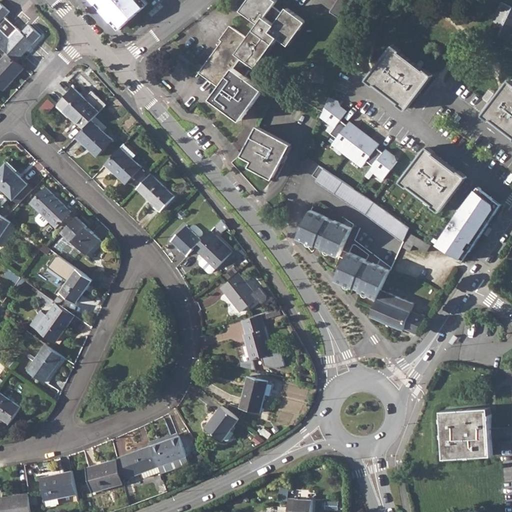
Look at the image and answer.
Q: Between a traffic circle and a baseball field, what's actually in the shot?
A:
traffic circle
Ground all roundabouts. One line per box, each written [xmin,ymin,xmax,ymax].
[299,352,406,504]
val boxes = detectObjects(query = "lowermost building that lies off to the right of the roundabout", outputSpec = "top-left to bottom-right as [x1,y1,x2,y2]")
[437,408,493,461]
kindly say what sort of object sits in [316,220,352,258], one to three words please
house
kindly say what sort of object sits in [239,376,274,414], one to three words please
house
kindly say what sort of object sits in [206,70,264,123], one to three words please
building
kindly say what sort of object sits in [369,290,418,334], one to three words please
building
